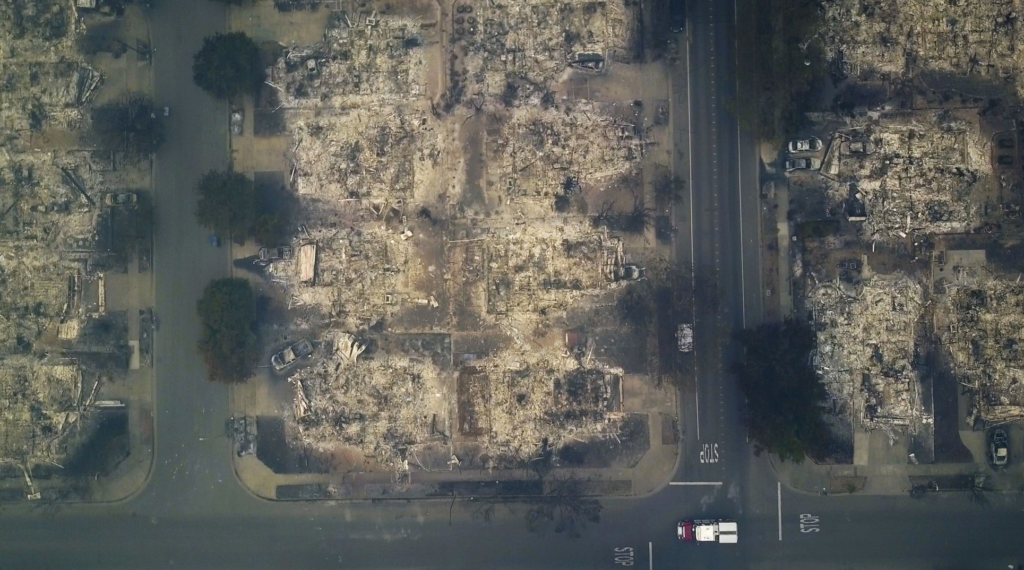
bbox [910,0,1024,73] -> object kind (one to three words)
house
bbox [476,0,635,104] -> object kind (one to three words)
house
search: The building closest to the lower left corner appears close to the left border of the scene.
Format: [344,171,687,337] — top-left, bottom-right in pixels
[0,360,86,469]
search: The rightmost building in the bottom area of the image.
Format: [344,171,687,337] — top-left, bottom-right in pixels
[953,277,1024,420]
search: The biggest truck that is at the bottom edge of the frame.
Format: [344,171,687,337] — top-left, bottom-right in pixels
[677,520,741,547]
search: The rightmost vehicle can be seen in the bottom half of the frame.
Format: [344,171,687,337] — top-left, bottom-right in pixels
[993,429,1011,470]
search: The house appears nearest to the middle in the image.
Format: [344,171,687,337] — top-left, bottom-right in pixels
[477,221,626,320]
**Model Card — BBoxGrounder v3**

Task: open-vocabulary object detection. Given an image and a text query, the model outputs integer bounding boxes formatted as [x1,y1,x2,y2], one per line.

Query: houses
[265,220,419,325]
[0,61,94,153]
[0,243,85,342]
[0,0,82,61]
[476,0,635,104]
[842,112,988,231]
[490,102,646,202]
[953,277,1024,420]
[483,354,626,458]
[477,221,626,320]
[288,353,455,456]
[0,360,86,469]
[288,103,444,199]
[825,0,913,75]
[910,0,1024,73]
[267,8,432,107]
[0,152,102,245]
[814,275,930,425]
